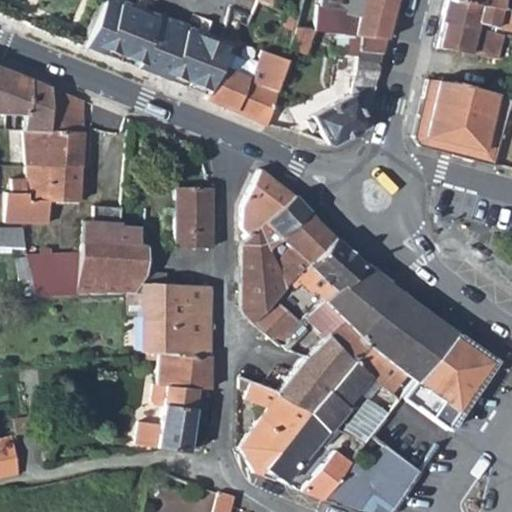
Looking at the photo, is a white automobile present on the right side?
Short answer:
Yes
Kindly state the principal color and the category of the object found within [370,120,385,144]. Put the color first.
white car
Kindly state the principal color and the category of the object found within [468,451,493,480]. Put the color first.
white vehicle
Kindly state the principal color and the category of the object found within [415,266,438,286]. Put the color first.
white car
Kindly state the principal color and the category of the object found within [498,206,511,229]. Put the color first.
white vehicle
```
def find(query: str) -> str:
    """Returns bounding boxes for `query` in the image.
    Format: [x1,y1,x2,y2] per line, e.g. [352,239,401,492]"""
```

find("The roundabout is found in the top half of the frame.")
[358,178,394,216]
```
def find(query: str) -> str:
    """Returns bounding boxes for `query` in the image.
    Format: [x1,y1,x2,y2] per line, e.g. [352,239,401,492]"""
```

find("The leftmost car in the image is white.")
[46,63,66,77]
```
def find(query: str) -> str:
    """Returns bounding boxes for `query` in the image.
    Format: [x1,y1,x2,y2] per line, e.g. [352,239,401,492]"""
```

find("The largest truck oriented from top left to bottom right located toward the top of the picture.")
[368,168,401,196]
